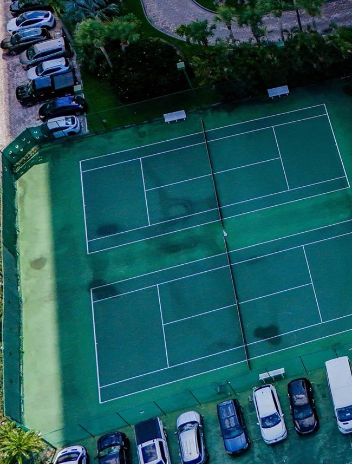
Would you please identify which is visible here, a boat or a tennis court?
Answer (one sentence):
This aerial view contains a tennis court.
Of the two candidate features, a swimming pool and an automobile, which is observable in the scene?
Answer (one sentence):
Looking from above, you can make out an automobile.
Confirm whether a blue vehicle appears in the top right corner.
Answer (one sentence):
No, no blue vehicle can be made out in the top right corner.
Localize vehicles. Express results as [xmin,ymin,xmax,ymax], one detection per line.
[39,98,90,123]
[50,116,87,139]
[51,448,89,464]
[252,384,287,447]
[9,14,56,36]
[19,37,73,68]
[133,417,169,464]
[26,55,76,85]
[287,376,320,438]
[325,353,352,431]
[3,28,52,56]
[16,75,79,108]
[173,411,208,464]
[96,436,131,464]
[216,395,250,461]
